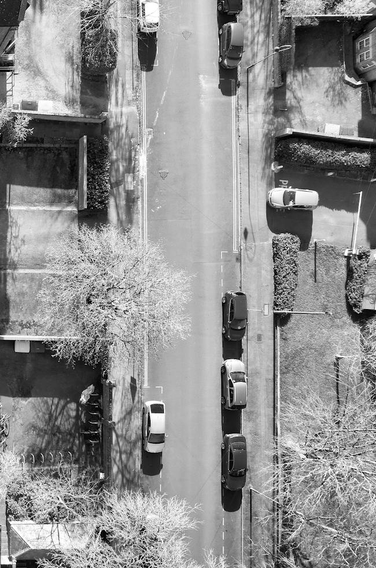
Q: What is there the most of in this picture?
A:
paved ground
